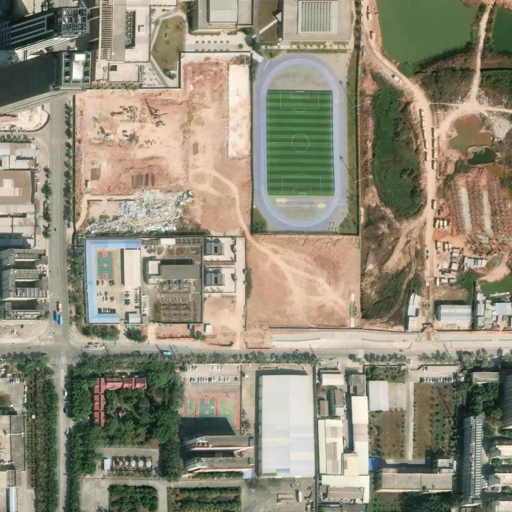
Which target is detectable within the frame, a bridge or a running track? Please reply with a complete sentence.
This aerial view contains a running track.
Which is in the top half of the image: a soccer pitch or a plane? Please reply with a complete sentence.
What appears in the top half of the image is a soccer pitch.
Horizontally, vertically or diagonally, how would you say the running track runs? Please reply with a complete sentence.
In this picture, the running track is oriented vertically.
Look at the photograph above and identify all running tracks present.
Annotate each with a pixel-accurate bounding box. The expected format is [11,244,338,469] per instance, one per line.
[257,54,348,231]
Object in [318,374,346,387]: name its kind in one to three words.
shed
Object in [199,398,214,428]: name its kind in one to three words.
basketball court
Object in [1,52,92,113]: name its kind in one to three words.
building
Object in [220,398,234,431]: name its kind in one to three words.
basketball court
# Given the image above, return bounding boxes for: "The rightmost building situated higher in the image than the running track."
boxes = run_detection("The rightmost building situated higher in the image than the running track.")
[274,0,352,42]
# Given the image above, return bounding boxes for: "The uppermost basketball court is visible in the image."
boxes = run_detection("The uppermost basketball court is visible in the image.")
[98,251,112,280]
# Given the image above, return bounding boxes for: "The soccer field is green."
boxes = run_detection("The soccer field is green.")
[266,91,332,196]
